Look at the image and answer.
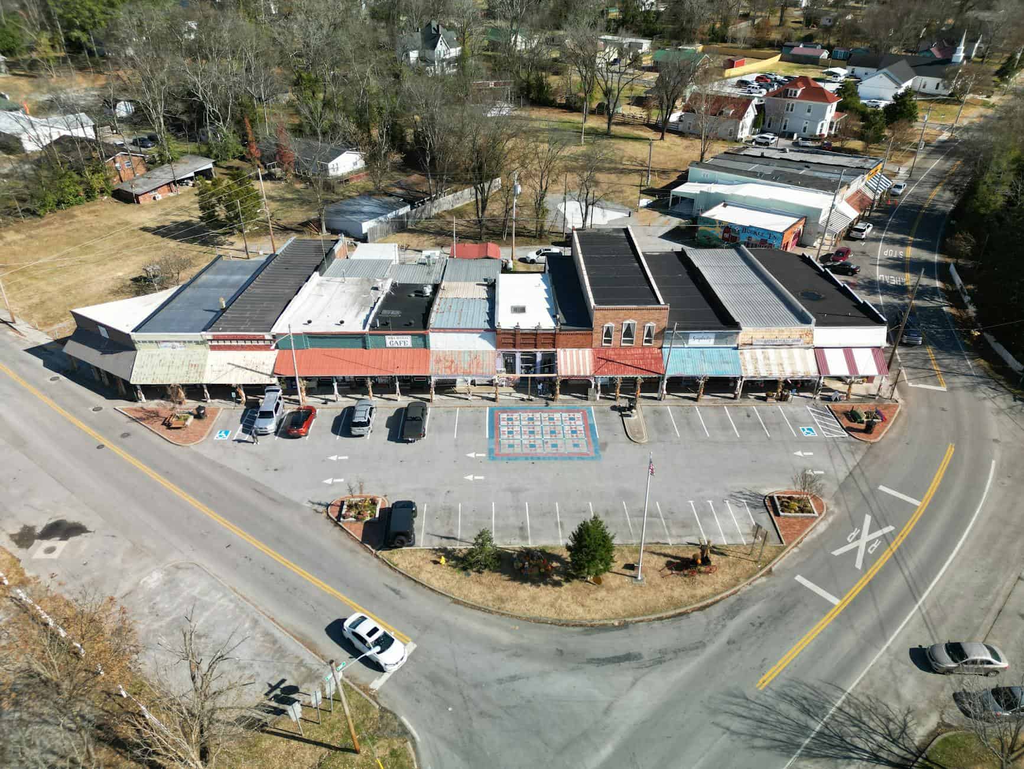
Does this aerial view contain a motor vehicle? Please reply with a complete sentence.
Yes, a motor vehicle is visible in the scene.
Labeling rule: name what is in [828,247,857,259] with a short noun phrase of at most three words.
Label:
vehicle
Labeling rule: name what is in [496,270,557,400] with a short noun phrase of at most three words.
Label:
building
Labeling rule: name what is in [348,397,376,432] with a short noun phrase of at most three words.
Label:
car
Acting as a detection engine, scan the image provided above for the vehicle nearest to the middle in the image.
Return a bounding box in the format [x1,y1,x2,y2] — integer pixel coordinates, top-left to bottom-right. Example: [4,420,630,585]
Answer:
[402,396,428,436]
